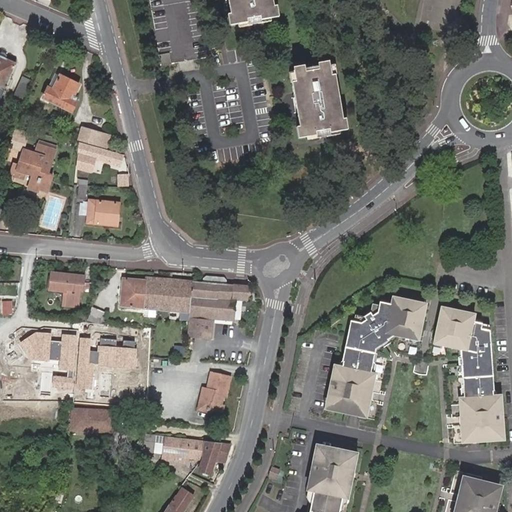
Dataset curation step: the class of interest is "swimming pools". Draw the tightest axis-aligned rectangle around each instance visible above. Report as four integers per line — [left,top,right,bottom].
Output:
[39,192,67,231]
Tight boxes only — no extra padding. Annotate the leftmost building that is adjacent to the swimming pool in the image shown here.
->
[11,140,58,196]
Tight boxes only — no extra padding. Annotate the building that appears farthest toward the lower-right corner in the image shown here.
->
[452,474,504,512]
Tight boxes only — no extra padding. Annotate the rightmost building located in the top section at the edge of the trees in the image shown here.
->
[288,60,349,142]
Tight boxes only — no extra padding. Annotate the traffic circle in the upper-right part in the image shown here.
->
[443,54,512,147]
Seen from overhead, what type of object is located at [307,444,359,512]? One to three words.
building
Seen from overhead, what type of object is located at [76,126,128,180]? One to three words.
house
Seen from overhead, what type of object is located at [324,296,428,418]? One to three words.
building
